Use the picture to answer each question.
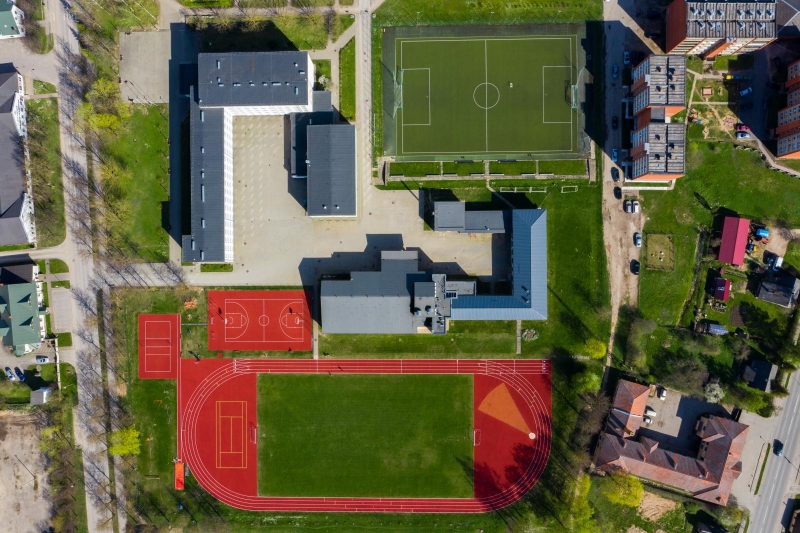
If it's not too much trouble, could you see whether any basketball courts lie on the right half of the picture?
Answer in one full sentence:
No, I can find no basketball court on the right half of the picture.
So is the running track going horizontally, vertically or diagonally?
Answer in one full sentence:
From this overhead view, the running track appears to run horizontally.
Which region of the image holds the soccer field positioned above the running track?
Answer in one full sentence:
The soccer field positioned above the running track appears toward the top of the photo.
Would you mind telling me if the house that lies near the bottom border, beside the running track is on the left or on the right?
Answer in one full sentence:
The house that lies near the bottom border, beside the running track is on the right side of the image.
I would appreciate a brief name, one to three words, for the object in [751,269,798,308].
house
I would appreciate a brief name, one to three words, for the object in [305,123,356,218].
building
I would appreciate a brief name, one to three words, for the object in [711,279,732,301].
shed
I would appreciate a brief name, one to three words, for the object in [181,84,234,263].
building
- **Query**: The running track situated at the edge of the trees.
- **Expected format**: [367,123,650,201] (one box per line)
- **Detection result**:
[181,360,552,513]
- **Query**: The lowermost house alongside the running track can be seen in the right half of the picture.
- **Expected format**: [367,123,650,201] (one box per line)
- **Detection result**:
[592,378,749,506]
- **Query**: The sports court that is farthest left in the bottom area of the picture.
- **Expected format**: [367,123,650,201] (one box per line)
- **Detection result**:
[138,314,177,379]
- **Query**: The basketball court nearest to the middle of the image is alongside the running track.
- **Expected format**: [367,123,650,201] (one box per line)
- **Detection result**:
[208,291,312,350]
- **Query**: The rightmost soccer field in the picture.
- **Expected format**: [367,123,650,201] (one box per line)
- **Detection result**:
[384,24,586,161]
